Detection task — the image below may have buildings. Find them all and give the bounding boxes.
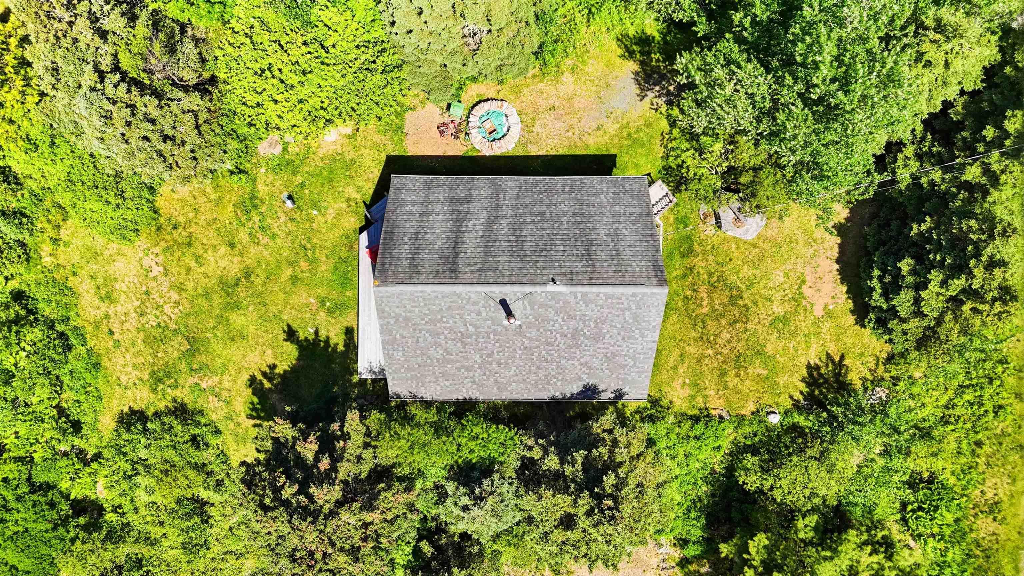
[373,172,667,402]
